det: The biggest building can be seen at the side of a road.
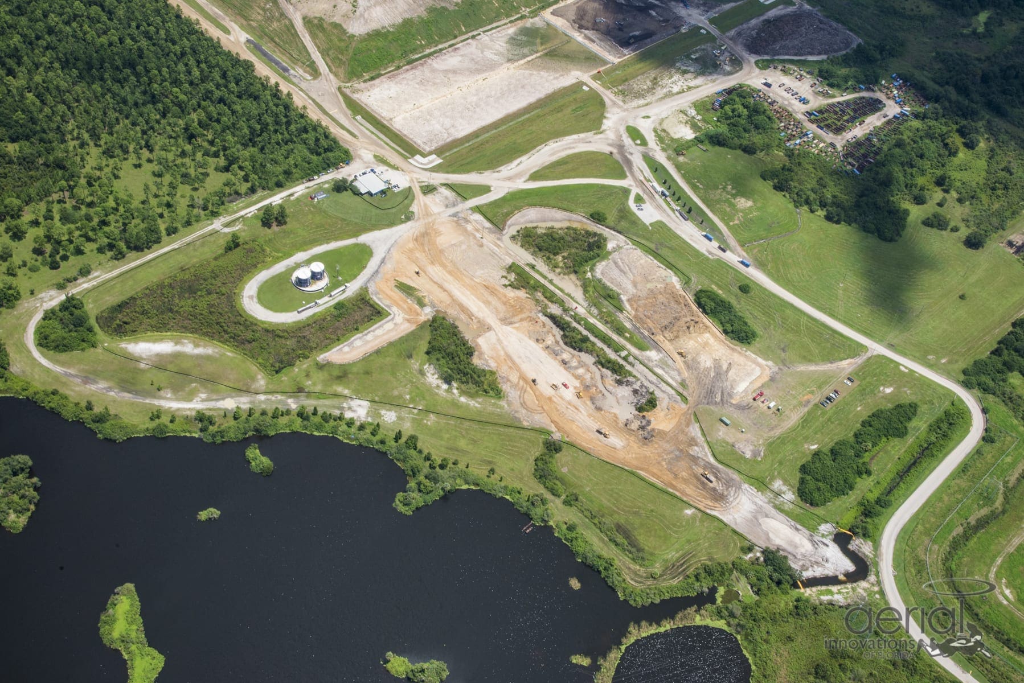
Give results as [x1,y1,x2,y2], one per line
[352,172,388,198]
